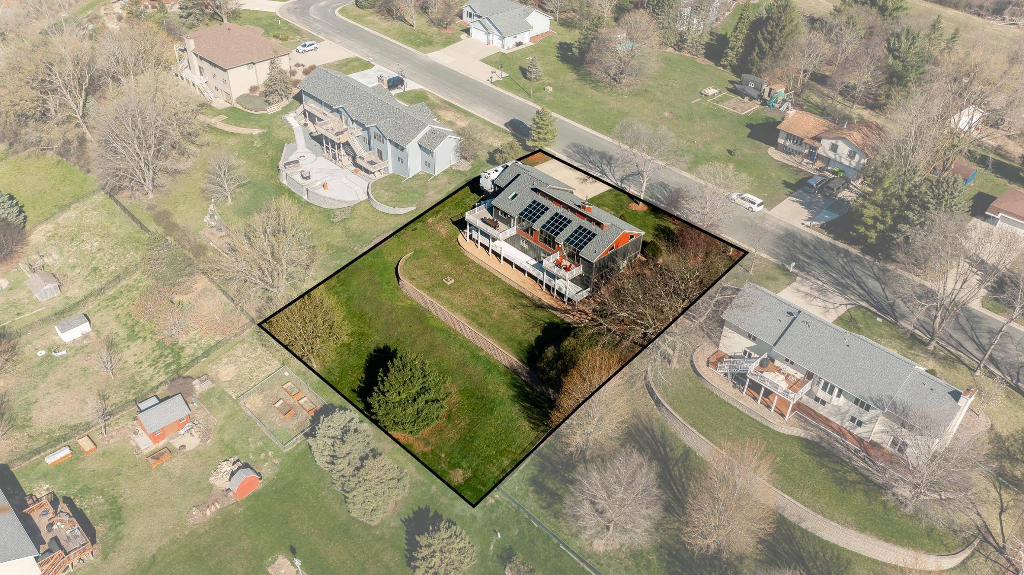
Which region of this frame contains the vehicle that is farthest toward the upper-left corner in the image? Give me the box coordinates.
[297,40,320,54]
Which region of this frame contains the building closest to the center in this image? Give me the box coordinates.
[488,163,643,287]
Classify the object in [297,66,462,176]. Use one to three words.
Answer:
house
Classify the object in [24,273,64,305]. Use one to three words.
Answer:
shed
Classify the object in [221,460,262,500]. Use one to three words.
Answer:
shed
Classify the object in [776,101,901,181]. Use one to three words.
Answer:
house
